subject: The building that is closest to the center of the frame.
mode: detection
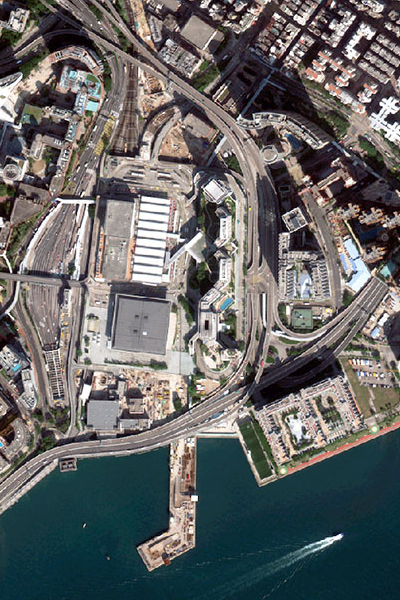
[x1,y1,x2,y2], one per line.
[199,288,224,312]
